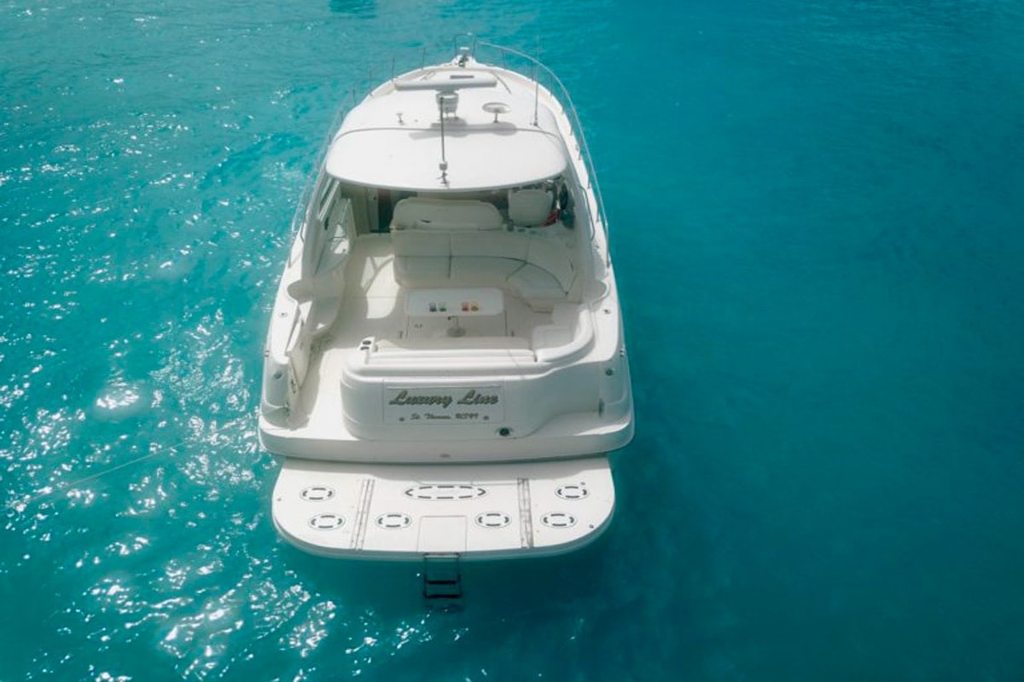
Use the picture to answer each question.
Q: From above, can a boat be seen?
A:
Yes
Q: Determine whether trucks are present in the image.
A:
No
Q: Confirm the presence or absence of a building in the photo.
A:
No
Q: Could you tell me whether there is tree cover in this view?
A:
No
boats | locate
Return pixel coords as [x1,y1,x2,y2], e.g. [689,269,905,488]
[260,27,632,598]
